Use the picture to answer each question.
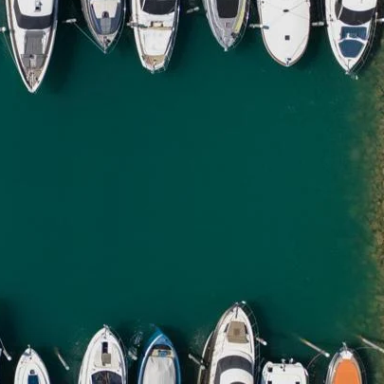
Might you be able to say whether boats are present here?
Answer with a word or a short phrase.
Yes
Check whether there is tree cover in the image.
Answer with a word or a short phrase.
No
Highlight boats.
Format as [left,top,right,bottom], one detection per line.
[78,322,128,384]
[260,359,309,384]
[134,326,178,384]
[4,0,59,96]
[197,334,213,384]
[320,344,365,384]
[127,0,181,75]
[206,301,262,384]
[13,344,47,384]
[315,0,379,77]
[78,0,124,56]
[249,0,308,70]
[198,0,249,53]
